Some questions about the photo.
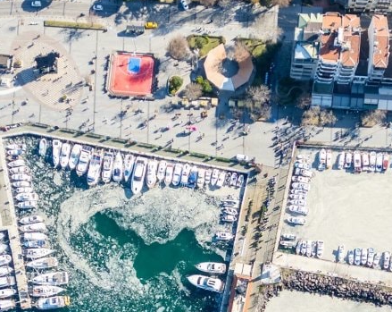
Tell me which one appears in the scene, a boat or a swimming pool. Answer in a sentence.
This aerial view contains a boat.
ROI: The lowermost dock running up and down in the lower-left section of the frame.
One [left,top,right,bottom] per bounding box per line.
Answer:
[6,224,30,310]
